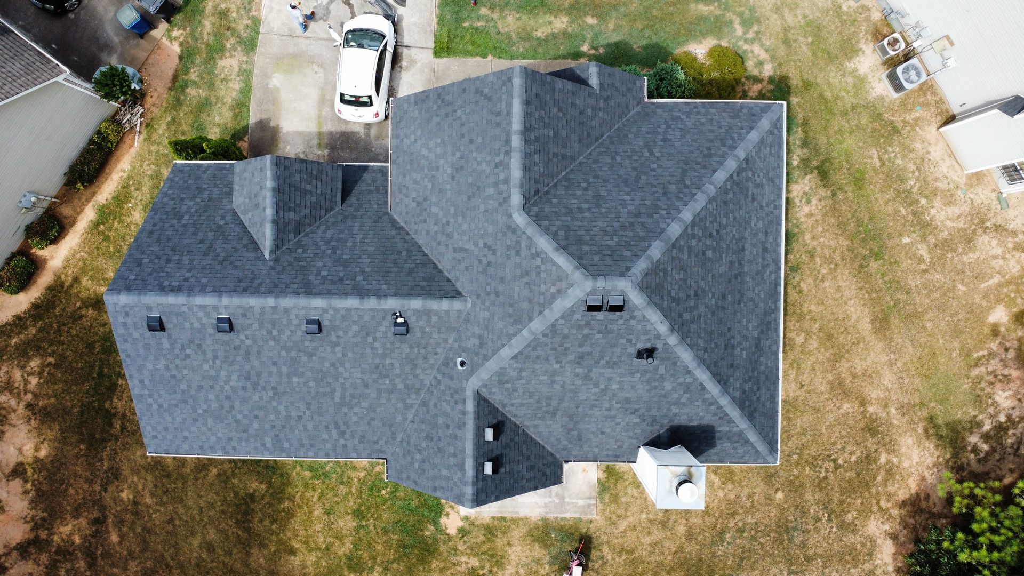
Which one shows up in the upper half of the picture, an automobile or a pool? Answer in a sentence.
The feature located in the upper half of the picture is an automobile.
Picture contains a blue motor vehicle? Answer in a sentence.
No, the scene contains no blue motor vehicle.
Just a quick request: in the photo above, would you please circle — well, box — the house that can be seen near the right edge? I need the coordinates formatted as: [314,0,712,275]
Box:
[882,0,1024,201]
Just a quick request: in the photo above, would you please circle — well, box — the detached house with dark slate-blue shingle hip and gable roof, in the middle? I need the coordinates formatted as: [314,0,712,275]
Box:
[103,62,787,509]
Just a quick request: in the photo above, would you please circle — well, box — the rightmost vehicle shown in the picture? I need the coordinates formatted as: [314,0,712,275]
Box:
[328,10,395,125]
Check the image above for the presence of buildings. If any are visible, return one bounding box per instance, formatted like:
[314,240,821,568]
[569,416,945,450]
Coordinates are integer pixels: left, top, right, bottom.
[0,16,118,264]
[882,0,1024,201]
[103,62,787,509]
